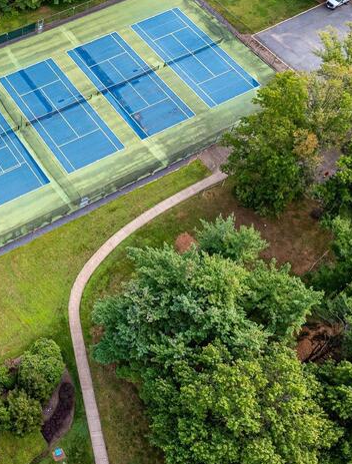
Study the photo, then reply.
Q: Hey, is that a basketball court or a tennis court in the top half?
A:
tennis court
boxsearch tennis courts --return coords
[0,112,50,205]
[66,31,194,139]
[131,7,260,107]
[0,57,125,174]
